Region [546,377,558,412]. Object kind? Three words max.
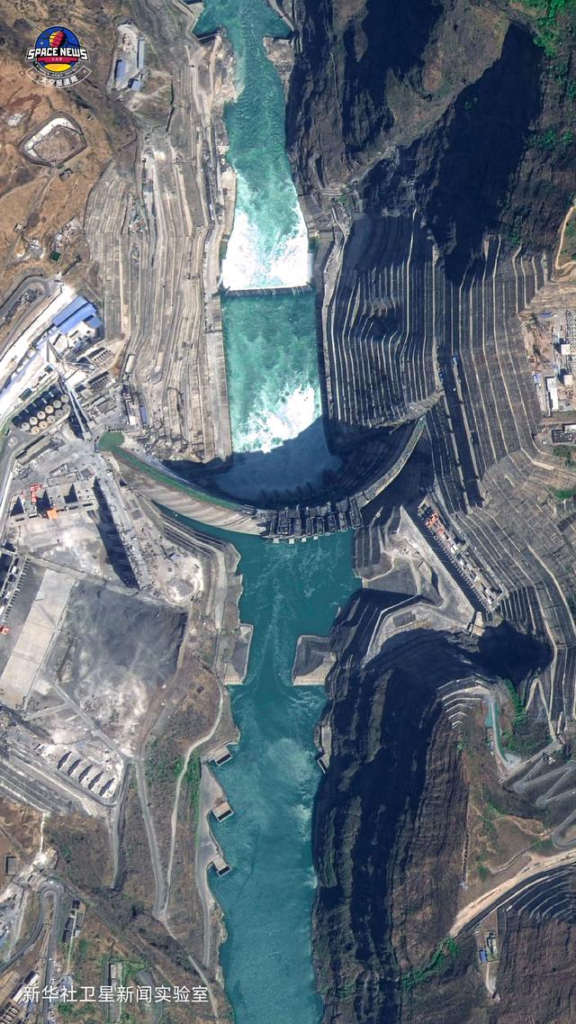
building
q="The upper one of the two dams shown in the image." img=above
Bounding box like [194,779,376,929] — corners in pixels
[220,280,316,295]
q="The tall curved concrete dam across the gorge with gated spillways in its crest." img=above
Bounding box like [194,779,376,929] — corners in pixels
[98,414,429,545]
